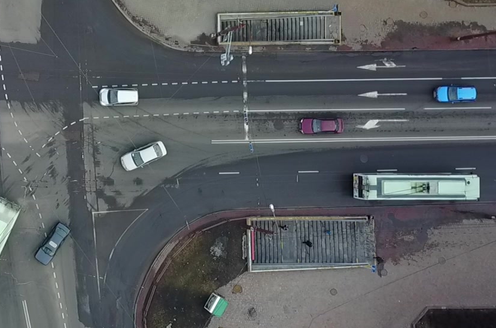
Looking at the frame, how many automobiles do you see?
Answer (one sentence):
The photo contains 5 automobiles.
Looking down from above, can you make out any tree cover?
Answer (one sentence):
No, the scene doesn't show any tree cover.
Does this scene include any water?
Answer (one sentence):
No, water can't be seen anywhere here.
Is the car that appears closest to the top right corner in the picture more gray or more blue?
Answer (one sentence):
The color of the car that appears closest to the top right corner is blue.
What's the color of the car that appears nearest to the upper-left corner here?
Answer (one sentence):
The color of the car that appears nearest to the upper-left corner is white.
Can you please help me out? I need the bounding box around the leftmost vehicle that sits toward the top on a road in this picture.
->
[99,85,138,107]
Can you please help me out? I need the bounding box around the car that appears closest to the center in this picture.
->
[298,115,343,136]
